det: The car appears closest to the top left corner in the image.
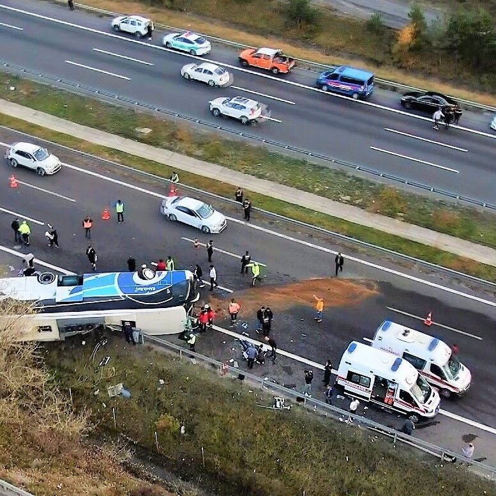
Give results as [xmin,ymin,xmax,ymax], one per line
[108,14,156,41]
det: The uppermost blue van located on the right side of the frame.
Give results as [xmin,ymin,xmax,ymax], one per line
[315,67,379,103]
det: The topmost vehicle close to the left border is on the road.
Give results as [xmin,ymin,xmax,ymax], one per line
[4,141,61,177]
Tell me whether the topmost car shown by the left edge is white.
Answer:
Yes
